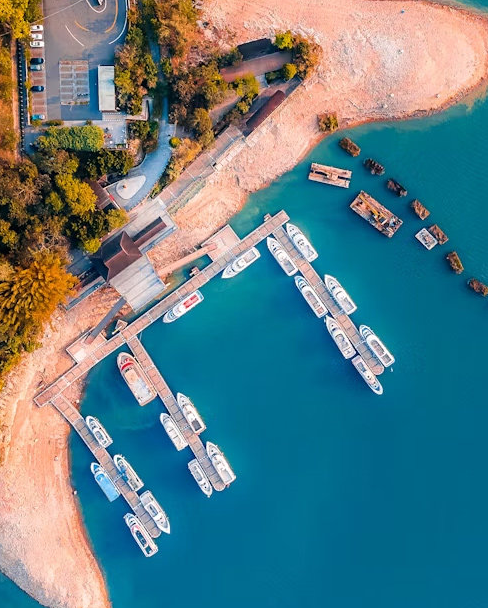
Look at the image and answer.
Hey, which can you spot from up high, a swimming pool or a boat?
boat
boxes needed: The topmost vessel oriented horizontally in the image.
[308,163,351,188]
